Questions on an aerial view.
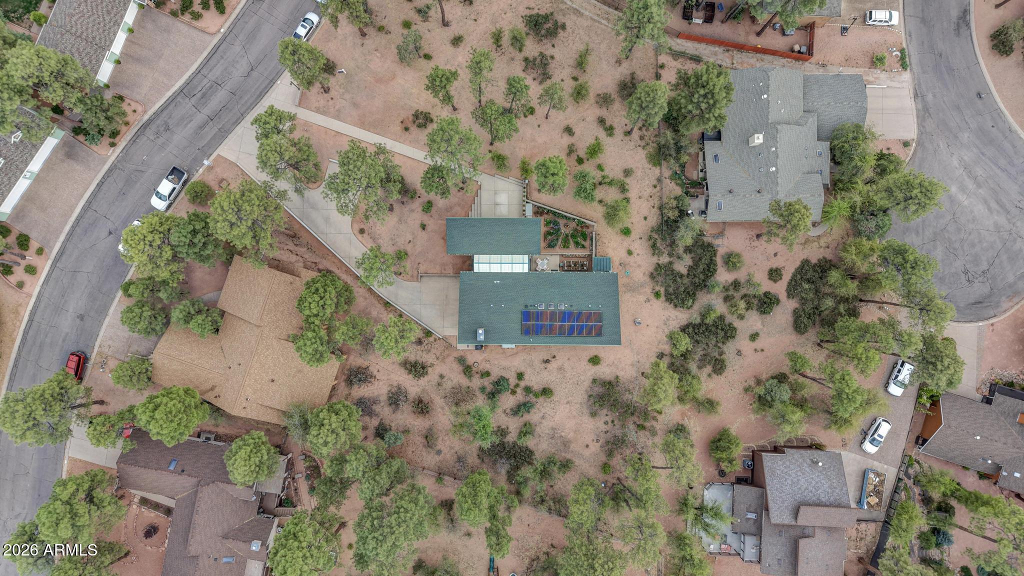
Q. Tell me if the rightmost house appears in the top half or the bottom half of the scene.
bottom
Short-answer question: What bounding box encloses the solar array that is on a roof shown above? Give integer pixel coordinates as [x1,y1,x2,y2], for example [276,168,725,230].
[522,312,602,335]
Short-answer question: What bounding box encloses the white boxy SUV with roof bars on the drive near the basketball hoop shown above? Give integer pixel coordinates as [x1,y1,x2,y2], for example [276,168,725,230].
[860,9,901,30]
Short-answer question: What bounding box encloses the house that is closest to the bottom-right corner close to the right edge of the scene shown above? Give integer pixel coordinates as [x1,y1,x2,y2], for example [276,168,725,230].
[919,391,1024,492]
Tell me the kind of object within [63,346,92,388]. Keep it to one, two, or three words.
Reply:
car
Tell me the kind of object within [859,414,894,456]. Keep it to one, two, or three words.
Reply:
car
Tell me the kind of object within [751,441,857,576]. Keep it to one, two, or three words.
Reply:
house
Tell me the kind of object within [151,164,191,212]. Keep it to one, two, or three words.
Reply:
truck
